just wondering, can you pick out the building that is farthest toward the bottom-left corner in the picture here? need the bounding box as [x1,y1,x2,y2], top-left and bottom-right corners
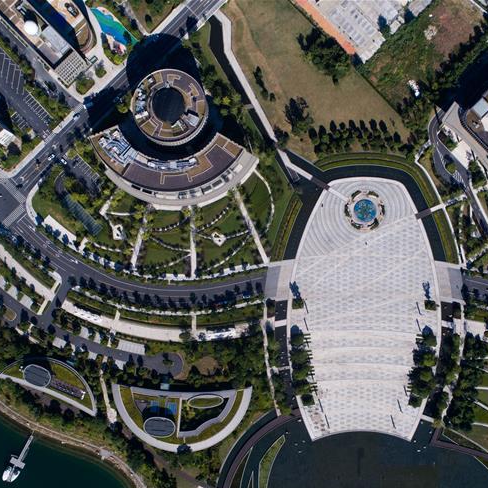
[0,356,99,416]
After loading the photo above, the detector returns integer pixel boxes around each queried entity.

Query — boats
[12,469,21,480]
[2,467,11,481]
